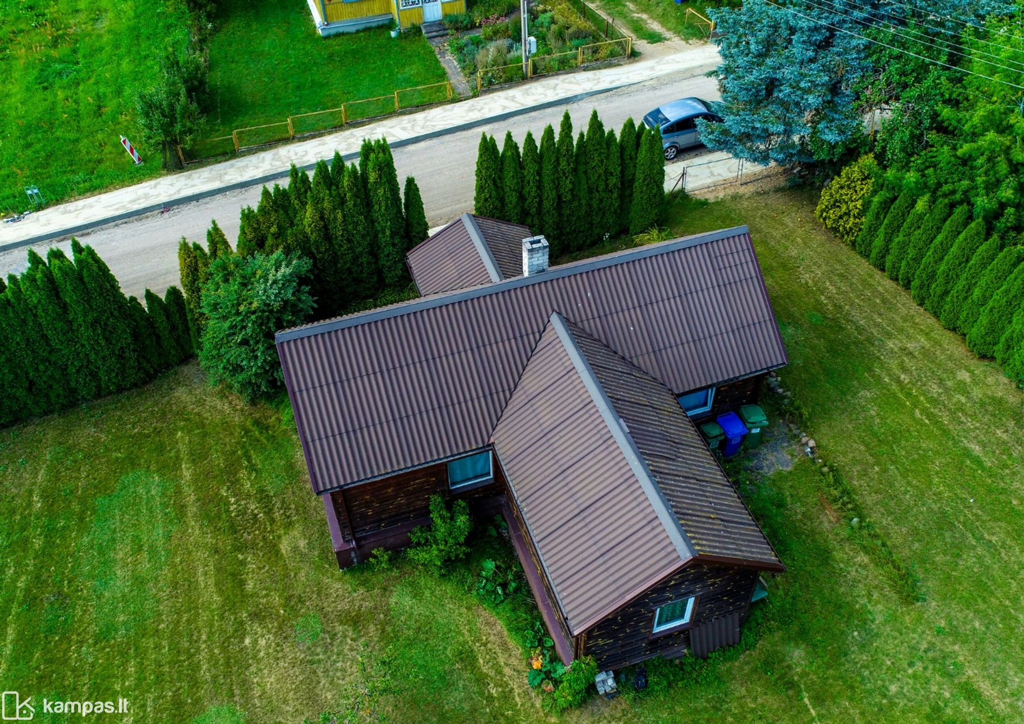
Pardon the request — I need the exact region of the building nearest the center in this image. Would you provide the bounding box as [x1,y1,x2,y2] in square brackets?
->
[275,210,789,692]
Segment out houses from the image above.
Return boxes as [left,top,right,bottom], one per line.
[275,210,789,692]
[296,0,470,35]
